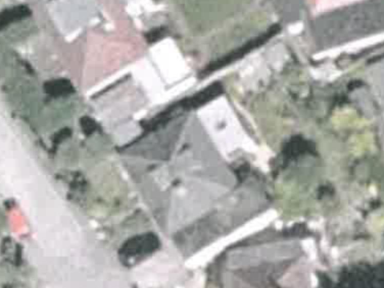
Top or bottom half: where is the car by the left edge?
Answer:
bottom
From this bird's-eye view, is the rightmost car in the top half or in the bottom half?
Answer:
bottom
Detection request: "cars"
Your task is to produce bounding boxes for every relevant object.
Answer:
[3,199,34,246]
[115,234,166,267]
